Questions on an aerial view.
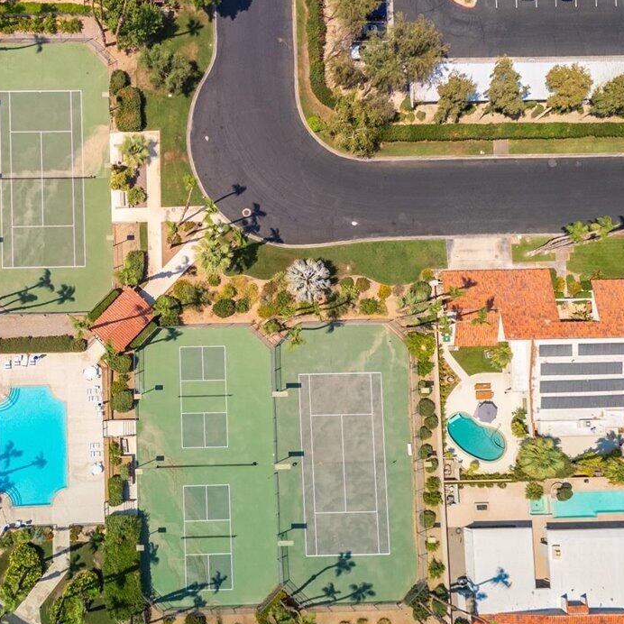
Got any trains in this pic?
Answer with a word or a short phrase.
No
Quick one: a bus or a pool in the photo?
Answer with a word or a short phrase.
pool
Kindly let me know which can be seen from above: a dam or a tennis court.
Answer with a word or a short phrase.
tennis court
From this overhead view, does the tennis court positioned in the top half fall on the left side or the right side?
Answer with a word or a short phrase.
left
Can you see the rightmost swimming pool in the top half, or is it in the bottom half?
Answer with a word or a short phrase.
bottom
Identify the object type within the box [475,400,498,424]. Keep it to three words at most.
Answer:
umbrella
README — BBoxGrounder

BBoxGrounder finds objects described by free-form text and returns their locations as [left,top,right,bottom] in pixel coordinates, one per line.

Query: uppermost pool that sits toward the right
[448,409,509,464]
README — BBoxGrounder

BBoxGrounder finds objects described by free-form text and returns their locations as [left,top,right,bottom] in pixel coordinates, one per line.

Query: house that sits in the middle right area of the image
[440,269,624,437]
